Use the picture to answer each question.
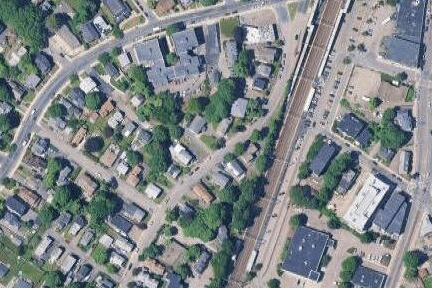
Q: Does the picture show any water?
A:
No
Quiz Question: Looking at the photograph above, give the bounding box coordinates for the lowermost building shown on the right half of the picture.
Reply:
[352,266,388,288]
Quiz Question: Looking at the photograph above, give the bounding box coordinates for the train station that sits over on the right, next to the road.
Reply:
[287,0,351,121]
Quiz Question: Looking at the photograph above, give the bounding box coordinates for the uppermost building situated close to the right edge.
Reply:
[394,0,427,44]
